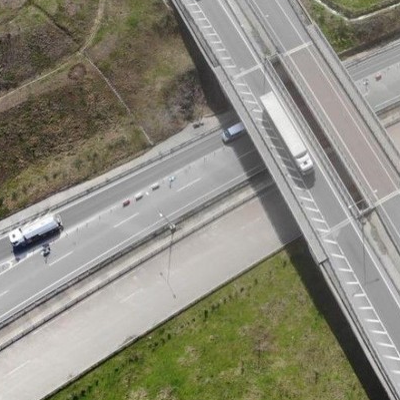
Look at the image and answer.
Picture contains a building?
No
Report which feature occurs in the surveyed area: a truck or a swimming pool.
truck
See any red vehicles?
No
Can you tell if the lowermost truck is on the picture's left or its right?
left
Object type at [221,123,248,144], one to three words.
vehicle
